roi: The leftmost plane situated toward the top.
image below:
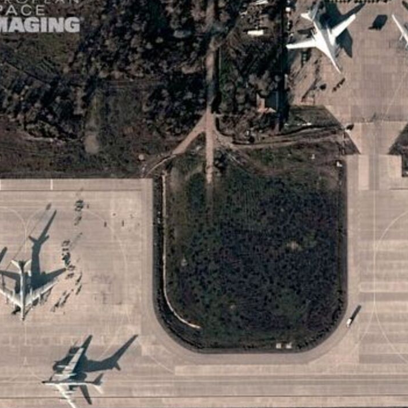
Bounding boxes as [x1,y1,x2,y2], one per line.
[287,8,356,73]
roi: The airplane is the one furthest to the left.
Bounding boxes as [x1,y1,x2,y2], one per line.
[0,259,55,320]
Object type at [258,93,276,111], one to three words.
house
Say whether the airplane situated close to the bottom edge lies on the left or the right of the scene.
left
